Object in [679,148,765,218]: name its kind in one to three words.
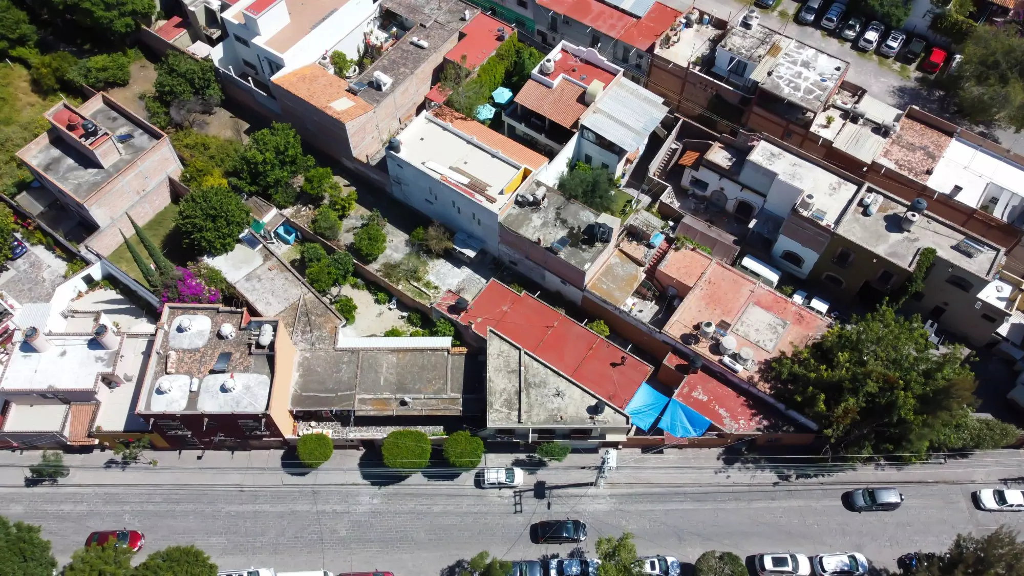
house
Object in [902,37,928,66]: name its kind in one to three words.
car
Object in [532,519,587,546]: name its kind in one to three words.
car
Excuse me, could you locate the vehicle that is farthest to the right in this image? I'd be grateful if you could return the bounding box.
[972,486,1024,514]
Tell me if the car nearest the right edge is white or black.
white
